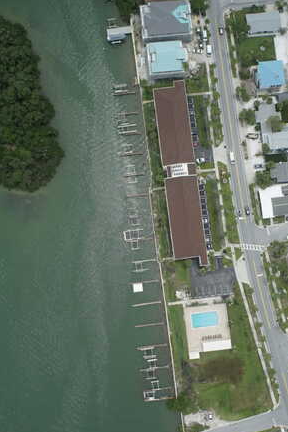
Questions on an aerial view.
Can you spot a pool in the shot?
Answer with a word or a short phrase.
Yes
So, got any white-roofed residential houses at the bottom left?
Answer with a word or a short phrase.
No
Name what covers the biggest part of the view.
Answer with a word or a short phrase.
water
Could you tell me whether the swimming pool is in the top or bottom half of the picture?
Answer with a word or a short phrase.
bottom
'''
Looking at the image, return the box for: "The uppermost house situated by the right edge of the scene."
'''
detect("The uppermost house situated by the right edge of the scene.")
[246,11,281,36]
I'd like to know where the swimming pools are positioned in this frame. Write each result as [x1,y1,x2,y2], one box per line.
[185,302,230,360]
